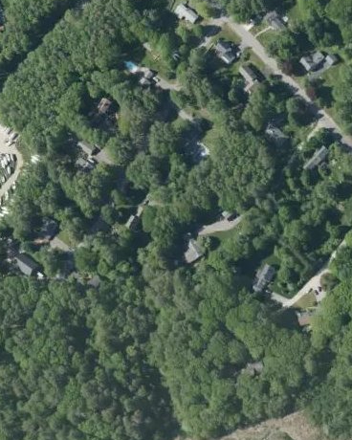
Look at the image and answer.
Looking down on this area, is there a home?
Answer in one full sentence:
Yes, a home is visible in the scene.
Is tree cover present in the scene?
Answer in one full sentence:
Yes, there is tree cover in the image.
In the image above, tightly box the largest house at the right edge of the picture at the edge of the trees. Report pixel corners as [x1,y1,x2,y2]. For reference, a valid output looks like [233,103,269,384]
[299,49,337,72]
